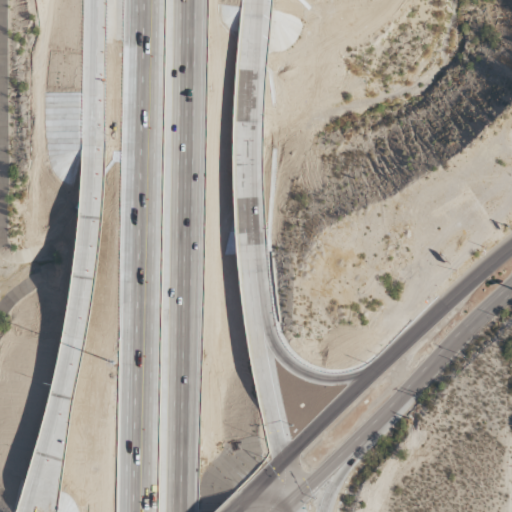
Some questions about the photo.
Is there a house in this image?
No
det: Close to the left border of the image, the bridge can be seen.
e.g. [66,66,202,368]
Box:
[16,0,106,512]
